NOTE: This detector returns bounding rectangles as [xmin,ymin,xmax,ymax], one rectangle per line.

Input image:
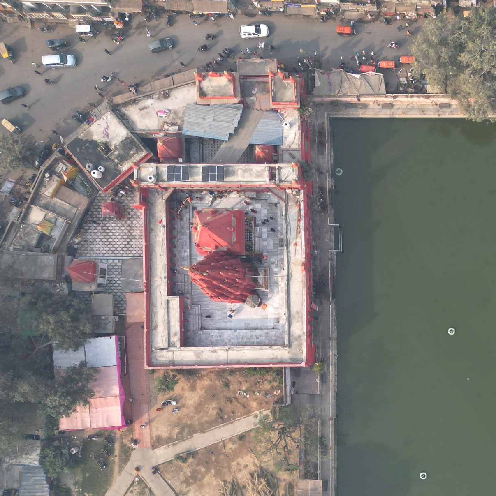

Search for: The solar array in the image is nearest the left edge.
[166,165,189,182]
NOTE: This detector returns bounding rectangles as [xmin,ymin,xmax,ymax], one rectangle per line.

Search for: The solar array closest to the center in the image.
[201,165,224,182]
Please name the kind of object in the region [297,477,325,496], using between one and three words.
shed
